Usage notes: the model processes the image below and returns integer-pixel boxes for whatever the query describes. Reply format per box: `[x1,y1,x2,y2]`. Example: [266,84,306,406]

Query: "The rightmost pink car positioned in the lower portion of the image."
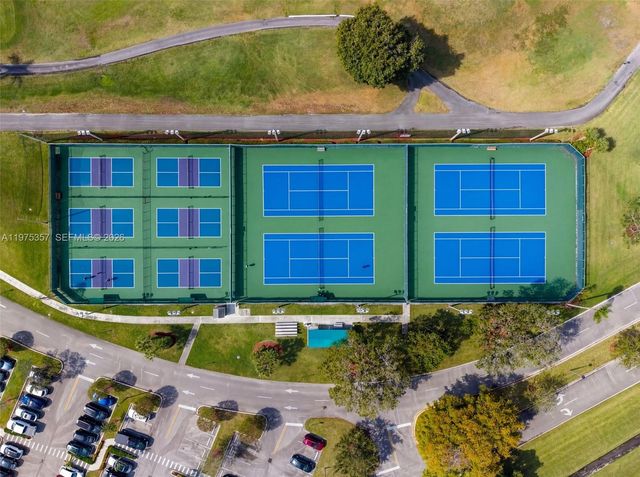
[304,433,325,449]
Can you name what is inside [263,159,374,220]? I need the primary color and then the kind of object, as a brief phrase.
blue tennis court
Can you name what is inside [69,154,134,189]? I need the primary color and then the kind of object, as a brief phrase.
blue sports court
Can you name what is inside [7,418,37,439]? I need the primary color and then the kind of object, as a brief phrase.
white vehicle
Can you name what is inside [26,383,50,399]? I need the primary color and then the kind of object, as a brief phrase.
white car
